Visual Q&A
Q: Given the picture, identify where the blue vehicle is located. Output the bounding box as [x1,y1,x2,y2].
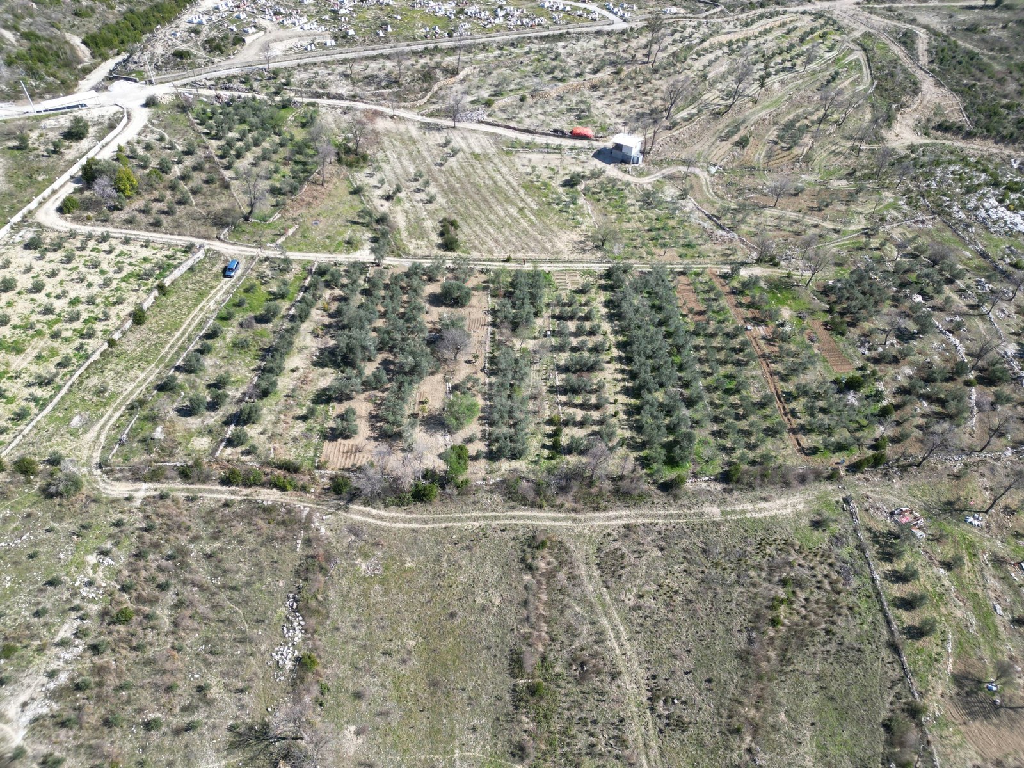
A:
[225,259,239,277]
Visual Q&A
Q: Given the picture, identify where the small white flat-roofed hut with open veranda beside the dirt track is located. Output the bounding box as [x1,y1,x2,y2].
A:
[606,128,643,171]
